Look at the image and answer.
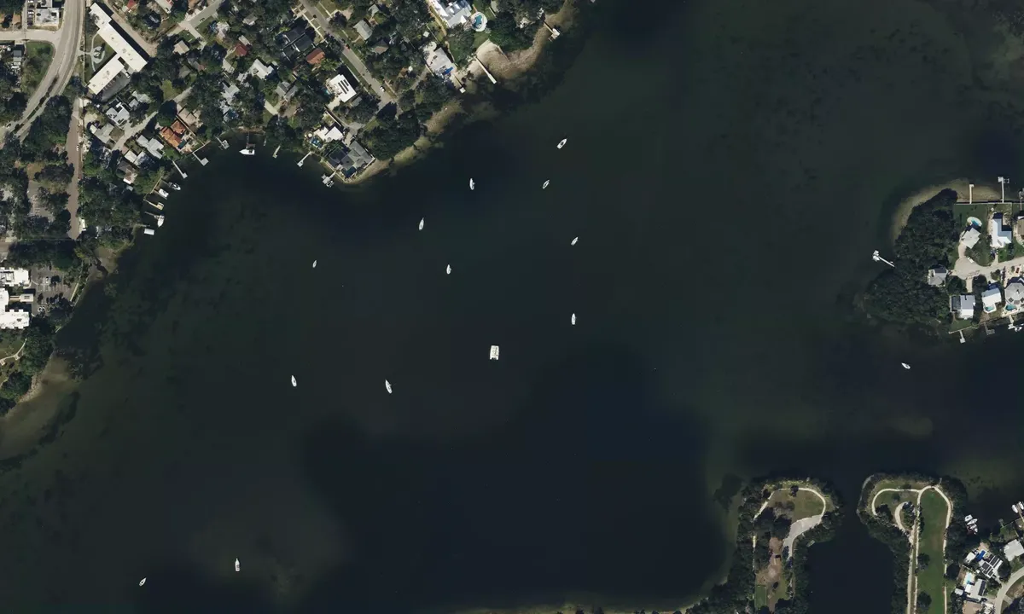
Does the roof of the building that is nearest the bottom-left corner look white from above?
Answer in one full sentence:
Yes, the roof of the building that is nearest the bottom-left corner appears white.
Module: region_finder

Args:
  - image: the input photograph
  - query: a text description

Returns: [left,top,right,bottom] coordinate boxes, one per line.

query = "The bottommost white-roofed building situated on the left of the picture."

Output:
[0,288,29,330]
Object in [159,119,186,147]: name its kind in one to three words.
house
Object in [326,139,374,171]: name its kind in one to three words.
house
